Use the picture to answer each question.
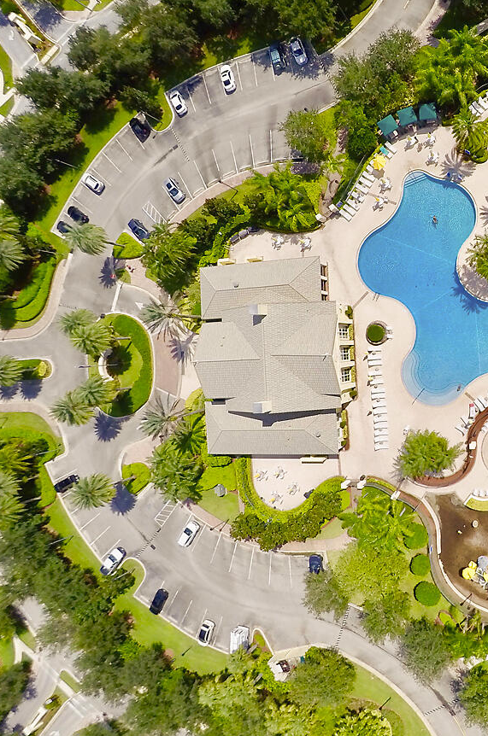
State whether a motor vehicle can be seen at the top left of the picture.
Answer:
Yes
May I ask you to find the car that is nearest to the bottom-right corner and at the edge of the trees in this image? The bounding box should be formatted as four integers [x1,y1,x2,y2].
[306,548,321,579]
